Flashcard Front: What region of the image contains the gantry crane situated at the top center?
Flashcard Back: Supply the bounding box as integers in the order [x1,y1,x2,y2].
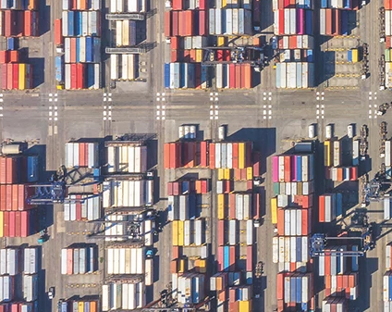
[202,43,265,68]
